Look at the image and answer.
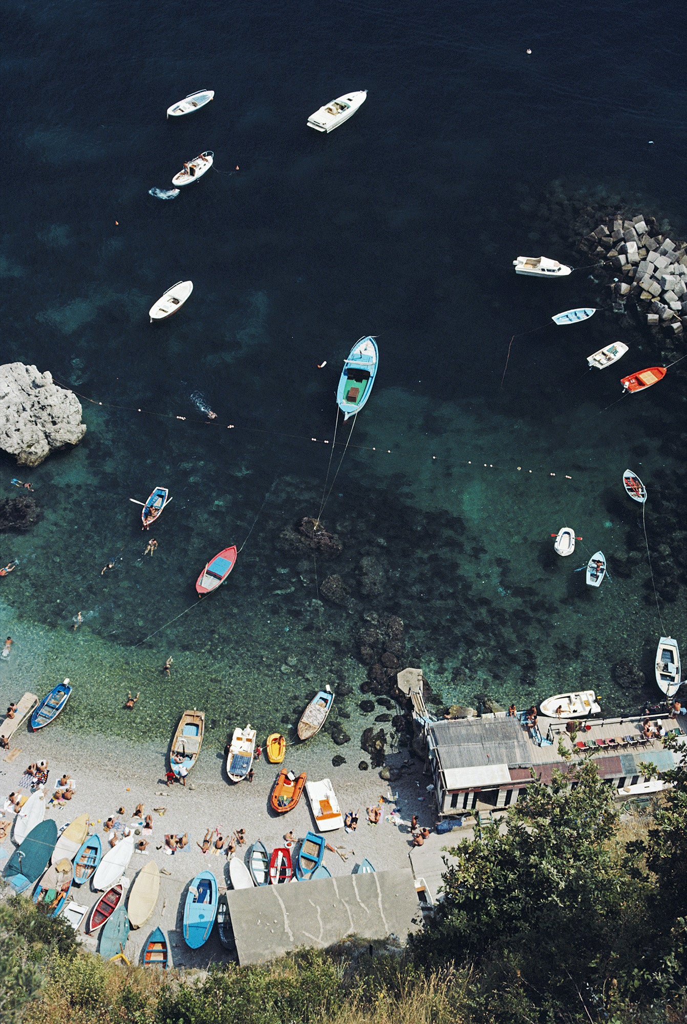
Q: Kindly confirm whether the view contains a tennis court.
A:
No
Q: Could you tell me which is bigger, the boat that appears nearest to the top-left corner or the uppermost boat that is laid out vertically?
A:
the uppermost boat that is laid out vertically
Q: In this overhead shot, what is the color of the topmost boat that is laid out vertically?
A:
blue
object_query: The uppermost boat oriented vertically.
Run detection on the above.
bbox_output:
[343,335,381,424]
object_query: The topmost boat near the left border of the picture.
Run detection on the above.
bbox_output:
[32,674,71,730]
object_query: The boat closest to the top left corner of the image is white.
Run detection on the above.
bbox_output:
[167,91,215,122]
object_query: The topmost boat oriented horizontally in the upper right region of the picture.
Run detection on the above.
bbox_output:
[510,258,571,283]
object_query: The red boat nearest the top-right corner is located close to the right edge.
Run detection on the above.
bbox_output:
[617,367,666,396]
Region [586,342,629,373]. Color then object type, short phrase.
white boat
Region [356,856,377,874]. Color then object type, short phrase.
white boat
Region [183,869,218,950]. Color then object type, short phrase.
blue boat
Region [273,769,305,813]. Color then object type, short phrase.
orange boat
